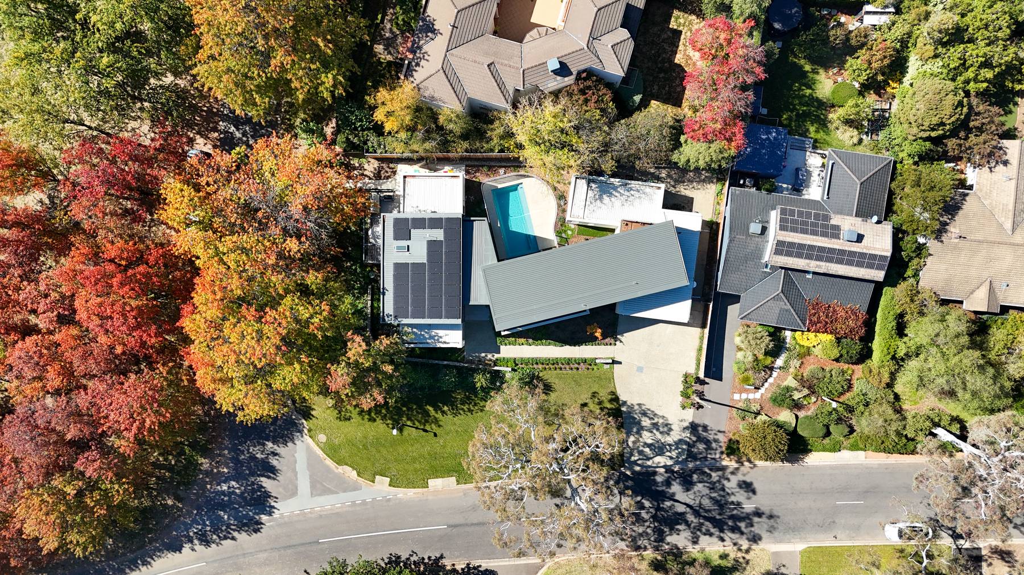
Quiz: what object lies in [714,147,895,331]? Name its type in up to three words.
house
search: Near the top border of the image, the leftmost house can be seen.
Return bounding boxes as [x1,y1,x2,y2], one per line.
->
[400,0,646,115]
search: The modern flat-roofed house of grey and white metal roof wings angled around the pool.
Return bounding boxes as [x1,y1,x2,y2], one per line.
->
[381,171,702,347]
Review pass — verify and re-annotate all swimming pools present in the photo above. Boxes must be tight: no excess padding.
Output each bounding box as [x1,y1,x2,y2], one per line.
[482,173,556,260]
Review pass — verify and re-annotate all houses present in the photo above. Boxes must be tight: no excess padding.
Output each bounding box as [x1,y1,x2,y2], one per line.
[918,140,1024,313]
[400,0,646,115]
[381,171,702,347]
[714,147,895,331]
